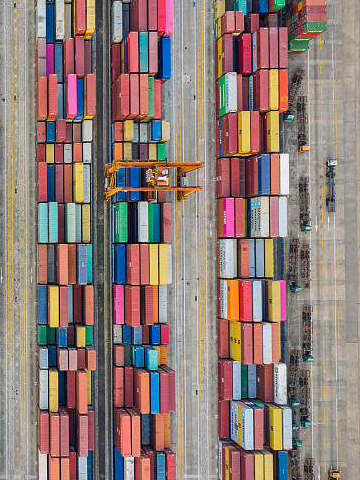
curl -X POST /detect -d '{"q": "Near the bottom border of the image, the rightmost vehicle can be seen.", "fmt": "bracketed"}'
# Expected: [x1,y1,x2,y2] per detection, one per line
[327,467,340,480]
